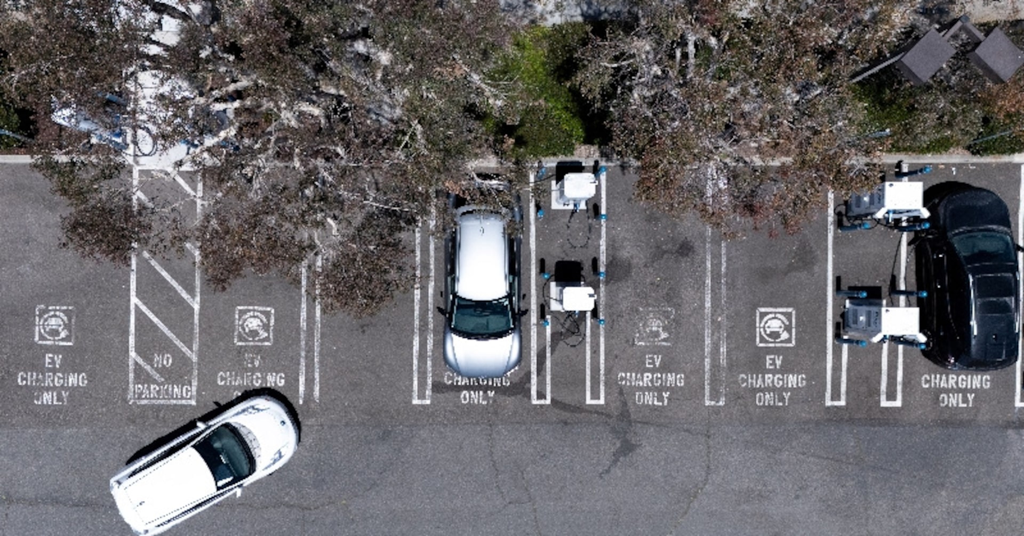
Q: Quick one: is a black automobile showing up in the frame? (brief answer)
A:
Yes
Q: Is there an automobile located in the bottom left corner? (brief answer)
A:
Yes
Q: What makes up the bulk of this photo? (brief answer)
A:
paved ground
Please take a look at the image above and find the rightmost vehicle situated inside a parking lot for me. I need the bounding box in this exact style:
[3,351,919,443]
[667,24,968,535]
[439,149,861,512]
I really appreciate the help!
[915,185,1024,372]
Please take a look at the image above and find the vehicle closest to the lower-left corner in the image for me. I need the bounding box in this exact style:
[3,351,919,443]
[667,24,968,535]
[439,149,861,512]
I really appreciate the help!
[112,393,297,535]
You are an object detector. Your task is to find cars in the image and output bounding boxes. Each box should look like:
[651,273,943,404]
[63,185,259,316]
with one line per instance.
[431,182,532,380]
[915,185,1024,372]
[112,393,297,535]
